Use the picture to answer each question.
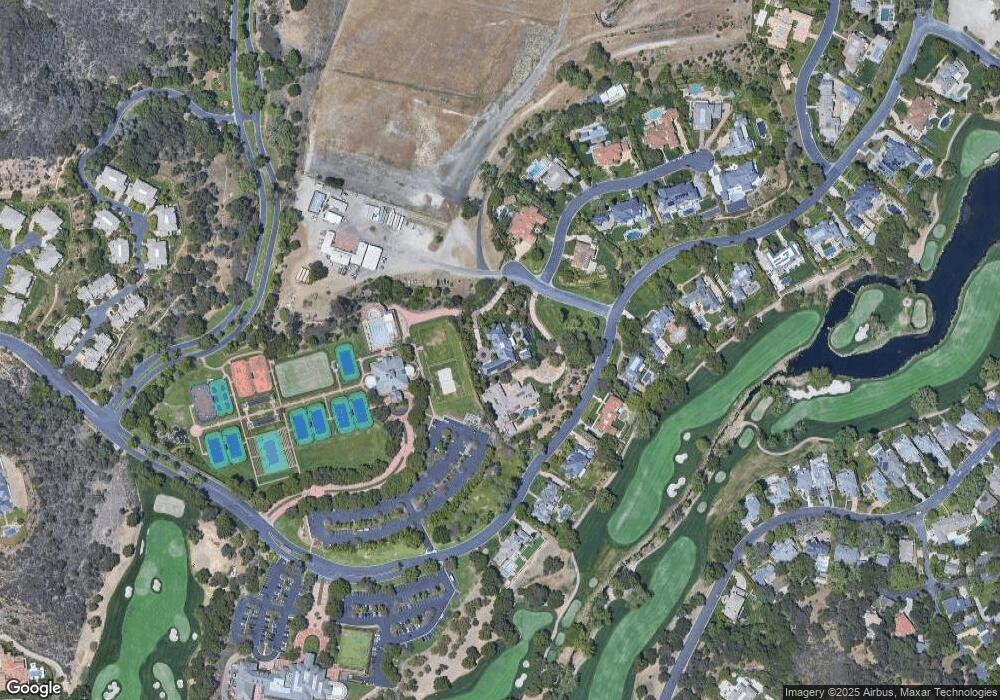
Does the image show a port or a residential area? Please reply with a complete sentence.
This looks like a residential area.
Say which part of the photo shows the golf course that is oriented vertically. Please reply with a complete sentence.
The golf course that is oriented vertically is in the bottom left part of the image.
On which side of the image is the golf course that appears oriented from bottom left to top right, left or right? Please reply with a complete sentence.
It is on the right.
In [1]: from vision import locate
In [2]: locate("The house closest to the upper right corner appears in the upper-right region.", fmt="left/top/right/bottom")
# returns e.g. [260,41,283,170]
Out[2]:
[929,54,969,102]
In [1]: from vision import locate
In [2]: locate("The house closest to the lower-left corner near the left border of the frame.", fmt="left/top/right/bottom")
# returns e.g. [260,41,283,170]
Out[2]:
[0,651,32,691]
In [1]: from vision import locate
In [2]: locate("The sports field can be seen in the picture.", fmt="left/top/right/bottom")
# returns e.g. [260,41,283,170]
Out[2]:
[412,318,483,419]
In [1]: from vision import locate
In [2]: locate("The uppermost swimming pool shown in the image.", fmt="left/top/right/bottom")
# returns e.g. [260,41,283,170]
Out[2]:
[878,3,895,27]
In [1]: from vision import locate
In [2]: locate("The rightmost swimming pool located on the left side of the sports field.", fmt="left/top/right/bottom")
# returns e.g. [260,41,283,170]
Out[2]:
[365,315,398,355]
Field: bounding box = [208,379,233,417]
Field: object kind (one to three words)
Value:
sports court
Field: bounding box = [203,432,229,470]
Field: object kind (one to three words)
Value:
tennis court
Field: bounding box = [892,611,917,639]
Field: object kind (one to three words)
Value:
house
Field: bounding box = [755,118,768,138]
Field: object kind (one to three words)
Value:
swimming pool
